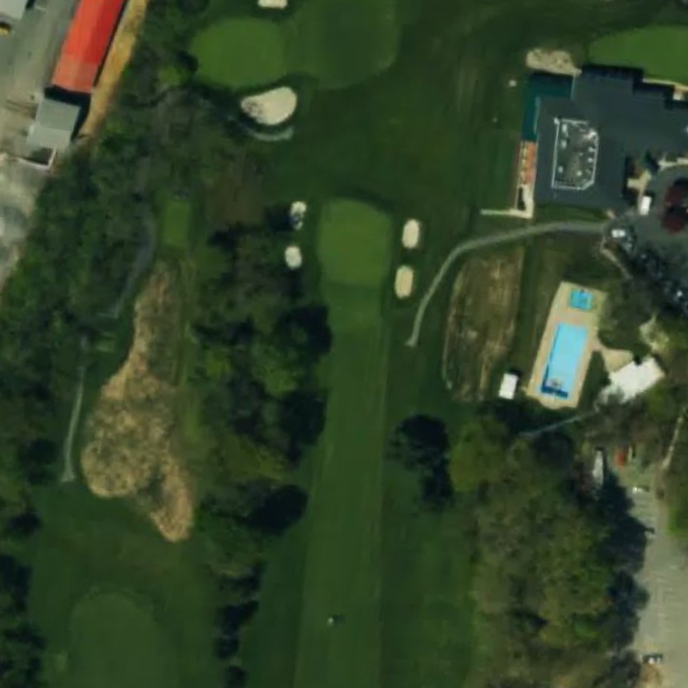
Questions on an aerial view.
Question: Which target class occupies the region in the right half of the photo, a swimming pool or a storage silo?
swimming pool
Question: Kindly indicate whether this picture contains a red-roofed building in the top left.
Yes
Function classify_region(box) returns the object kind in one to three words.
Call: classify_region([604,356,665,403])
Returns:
building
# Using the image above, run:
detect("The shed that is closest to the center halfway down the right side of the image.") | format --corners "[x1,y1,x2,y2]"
[500,373,519,399]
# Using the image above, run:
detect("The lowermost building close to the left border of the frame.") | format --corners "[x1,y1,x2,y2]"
[23,99,79,150]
